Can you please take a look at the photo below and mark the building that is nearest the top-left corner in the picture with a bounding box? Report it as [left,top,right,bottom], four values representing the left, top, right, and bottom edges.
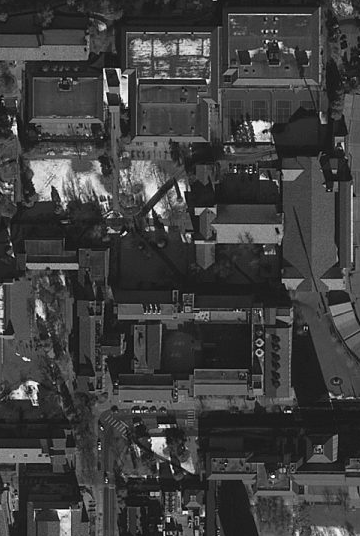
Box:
[0,28,89,60]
